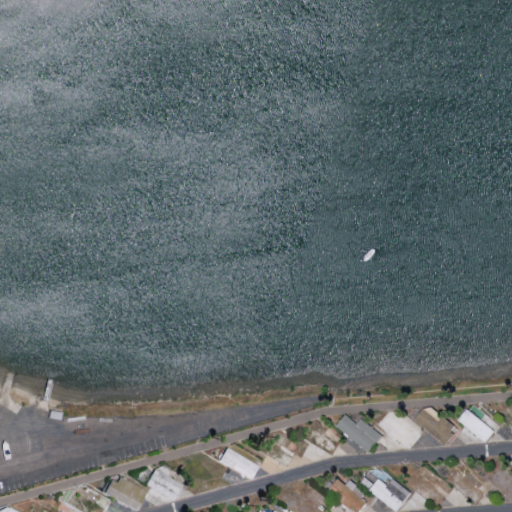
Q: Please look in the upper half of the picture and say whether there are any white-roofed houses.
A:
No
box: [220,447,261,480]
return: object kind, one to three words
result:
house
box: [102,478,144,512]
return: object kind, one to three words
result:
house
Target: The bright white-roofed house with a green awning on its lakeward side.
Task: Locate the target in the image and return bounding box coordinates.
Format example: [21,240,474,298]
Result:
[458,406,494,443]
